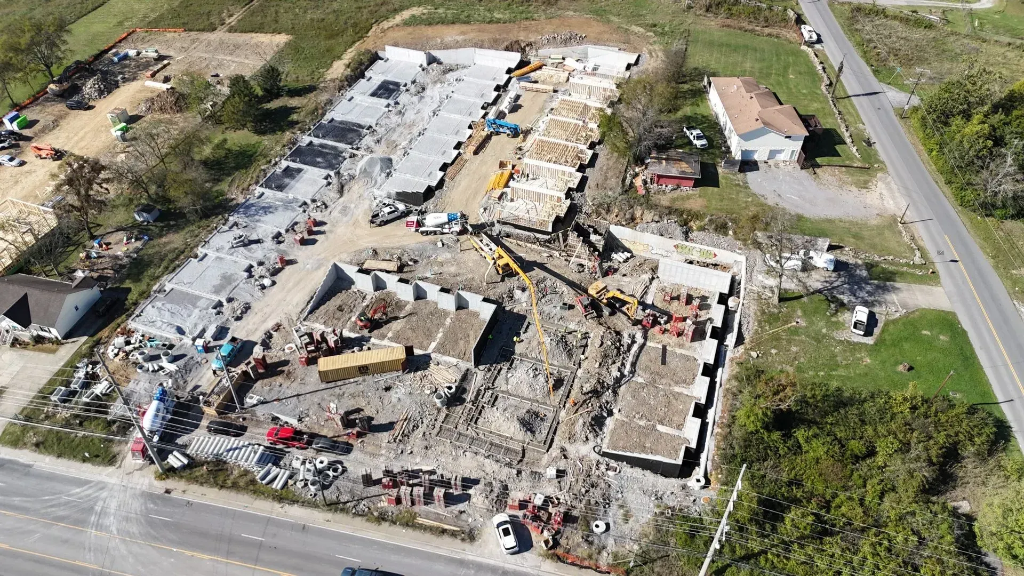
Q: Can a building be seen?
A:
Yes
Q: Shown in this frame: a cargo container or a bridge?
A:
cargo container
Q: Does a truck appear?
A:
Yes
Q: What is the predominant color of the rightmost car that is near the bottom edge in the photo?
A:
white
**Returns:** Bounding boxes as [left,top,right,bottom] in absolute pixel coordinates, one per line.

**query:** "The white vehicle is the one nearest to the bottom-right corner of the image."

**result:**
[849,303,873,333]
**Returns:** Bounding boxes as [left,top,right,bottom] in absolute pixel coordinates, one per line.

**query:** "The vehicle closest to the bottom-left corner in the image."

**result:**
[124,379,171,455]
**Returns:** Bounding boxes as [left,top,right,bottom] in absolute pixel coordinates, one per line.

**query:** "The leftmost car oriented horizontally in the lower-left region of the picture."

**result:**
[204,414,245,434]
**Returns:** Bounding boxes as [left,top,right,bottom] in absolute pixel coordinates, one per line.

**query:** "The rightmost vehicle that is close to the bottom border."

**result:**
[493,511,521,553]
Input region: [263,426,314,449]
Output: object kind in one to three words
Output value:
truck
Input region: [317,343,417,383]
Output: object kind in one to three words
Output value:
shipping container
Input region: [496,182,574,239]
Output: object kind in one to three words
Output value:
house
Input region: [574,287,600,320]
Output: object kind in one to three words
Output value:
work vehicle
